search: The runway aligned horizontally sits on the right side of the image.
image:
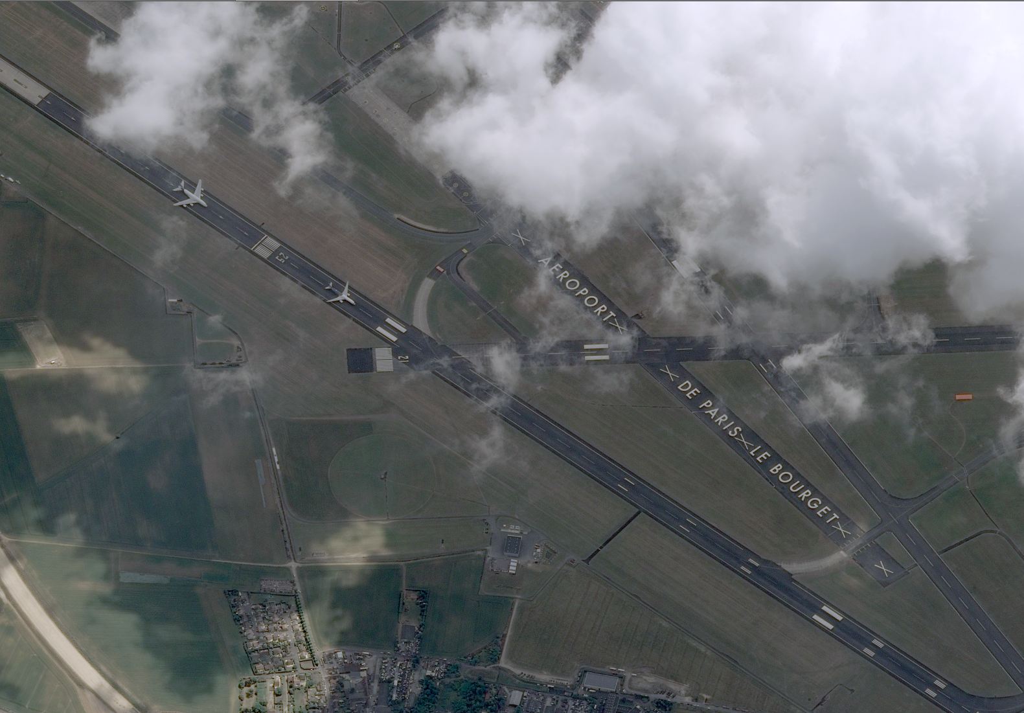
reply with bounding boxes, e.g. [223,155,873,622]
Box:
[347,324,1024,374]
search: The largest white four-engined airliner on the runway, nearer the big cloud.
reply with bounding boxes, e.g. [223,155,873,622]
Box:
[172,177,208,206]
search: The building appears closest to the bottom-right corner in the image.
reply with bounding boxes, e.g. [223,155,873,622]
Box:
[585,672,619,693]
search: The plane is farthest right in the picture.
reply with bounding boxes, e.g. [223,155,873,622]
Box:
[326,280,356,304]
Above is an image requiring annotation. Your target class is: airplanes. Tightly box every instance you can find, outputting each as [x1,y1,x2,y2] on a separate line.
[172,177,208,206]
[326,280,356,304]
